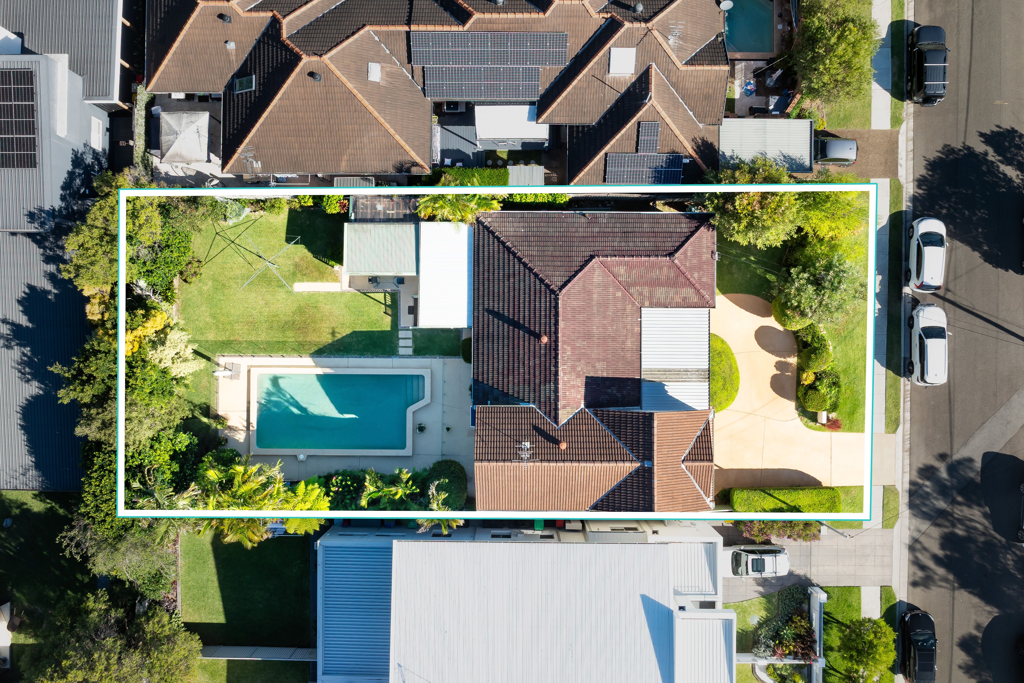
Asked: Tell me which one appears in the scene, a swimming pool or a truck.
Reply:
swimming pool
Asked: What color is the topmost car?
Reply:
black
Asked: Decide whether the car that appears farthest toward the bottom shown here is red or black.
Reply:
black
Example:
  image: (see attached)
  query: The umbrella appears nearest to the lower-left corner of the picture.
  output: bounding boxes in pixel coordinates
[212,363,237,379]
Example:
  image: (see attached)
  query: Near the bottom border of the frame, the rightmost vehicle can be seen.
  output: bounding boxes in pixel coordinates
[898,606,942,683]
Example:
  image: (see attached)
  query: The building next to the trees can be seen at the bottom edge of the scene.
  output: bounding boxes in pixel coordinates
[316,513,737,683]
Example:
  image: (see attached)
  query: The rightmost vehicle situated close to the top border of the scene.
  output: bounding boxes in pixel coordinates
[906,22,953,106]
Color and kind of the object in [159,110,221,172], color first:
white gazebo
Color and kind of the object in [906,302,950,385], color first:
white car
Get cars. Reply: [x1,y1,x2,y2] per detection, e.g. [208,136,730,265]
[906,22,953,106]
[906,302,950,385]
[813,132,866,170]
[898,606,942,683]
[724,538,792,577]
[905,217,949,292]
